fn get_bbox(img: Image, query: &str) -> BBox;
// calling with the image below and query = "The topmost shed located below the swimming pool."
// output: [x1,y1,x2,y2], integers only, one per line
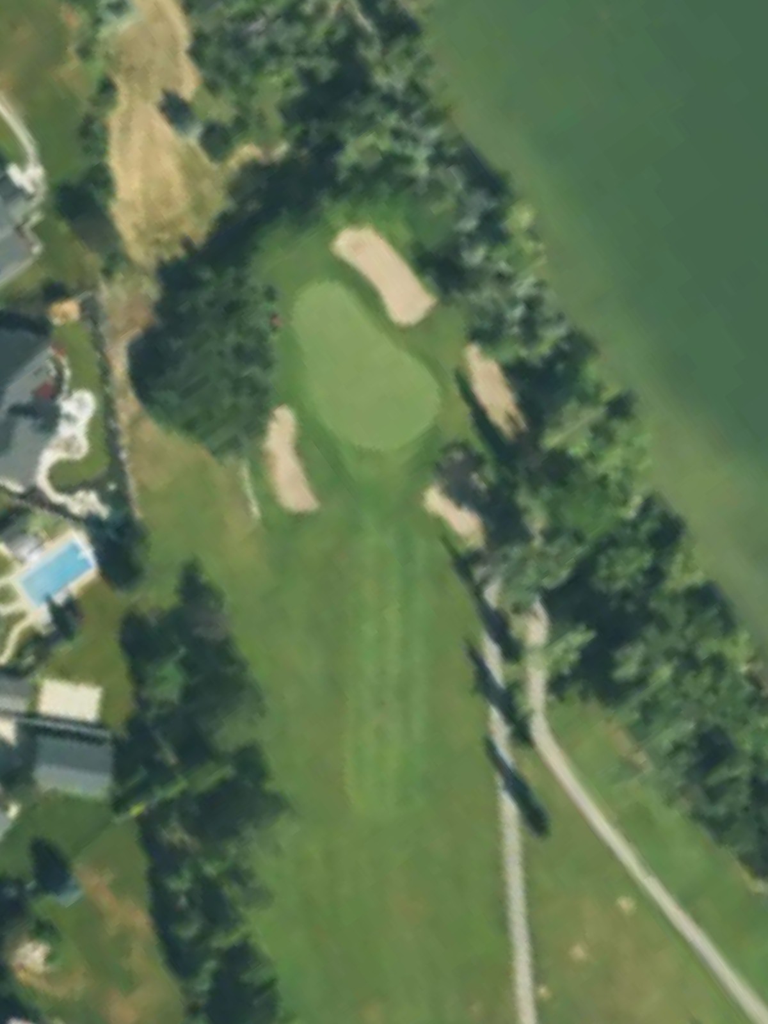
[0,674,31,716]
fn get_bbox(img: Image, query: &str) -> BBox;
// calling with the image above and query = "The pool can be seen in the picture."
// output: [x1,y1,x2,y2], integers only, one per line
[9,533,103,628]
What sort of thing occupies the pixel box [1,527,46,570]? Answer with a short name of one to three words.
building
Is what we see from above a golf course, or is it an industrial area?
golf course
